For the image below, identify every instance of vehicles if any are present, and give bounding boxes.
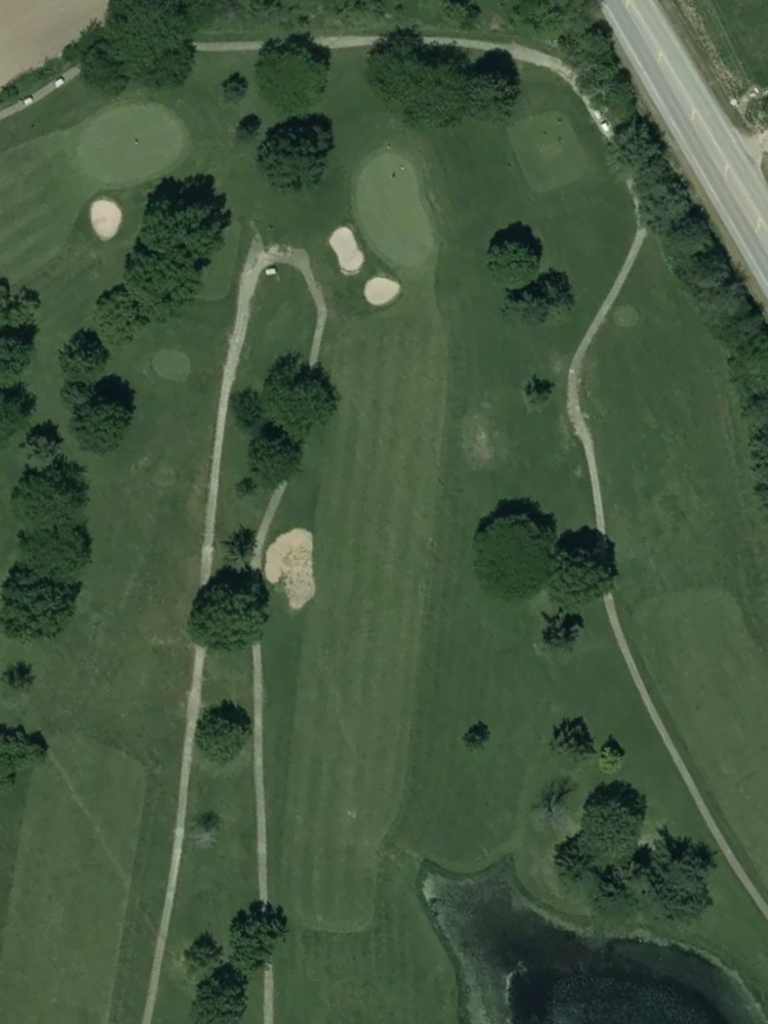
[600,121,610,134]
[592,109,603,122]
[53,77,67,88]
[265,268,278,276]
[22,96,35,107]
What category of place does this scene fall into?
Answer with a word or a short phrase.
golf course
